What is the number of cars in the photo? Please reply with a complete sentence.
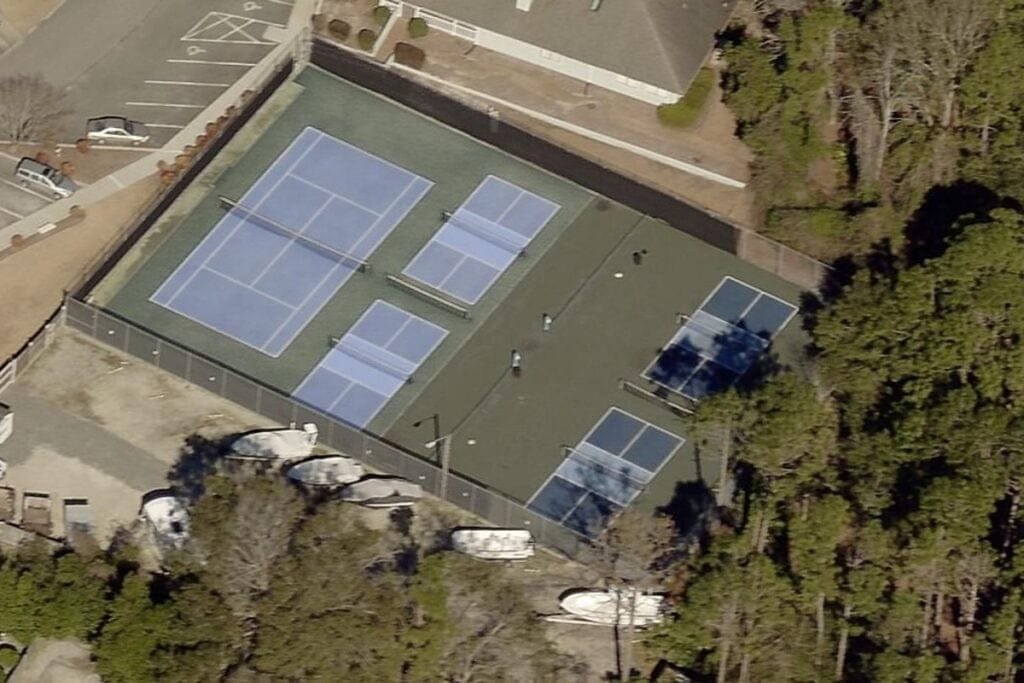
The picture shows 2 cars.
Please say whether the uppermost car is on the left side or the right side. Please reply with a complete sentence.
It is on the left.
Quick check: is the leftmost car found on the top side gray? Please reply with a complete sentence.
Yes, the leftmost car found on the top side is indeed gray.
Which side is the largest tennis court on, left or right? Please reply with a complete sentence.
The largest tennis court sits on the left side.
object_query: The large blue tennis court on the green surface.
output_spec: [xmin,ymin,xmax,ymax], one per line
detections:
[151,127,435,356]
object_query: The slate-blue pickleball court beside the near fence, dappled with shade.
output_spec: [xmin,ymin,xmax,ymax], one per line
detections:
[525,408,684,539]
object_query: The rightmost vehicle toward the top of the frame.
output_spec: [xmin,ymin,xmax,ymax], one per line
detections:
[87,118,150,145]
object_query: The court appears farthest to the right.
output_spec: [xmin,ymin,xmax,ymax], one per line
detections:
[642,277,799,407]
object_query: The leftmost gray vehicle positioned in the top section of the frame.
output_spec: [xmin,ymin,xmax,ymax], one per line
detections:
[12,154,80,199]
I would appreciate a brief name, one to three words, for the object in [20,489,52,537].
trailer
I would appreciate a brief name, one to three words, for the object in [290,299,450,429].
sports court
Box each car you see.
[87,118,150,145]
[12,154,80,199]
